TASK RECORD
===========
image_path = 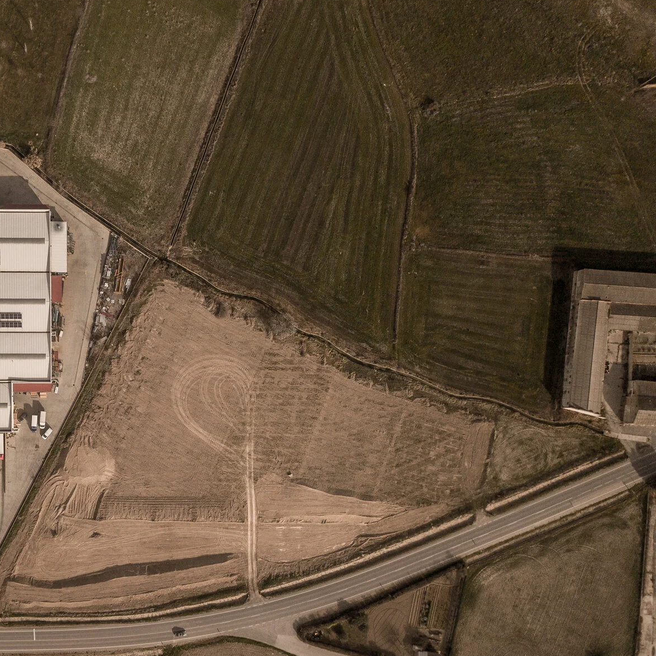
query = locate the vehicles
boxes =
[39,411,46,429]
[16,412,27,423]
[32,414,37,433]
[41,426,52,441]
[173,631,186,638]
[53,385,59,395]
